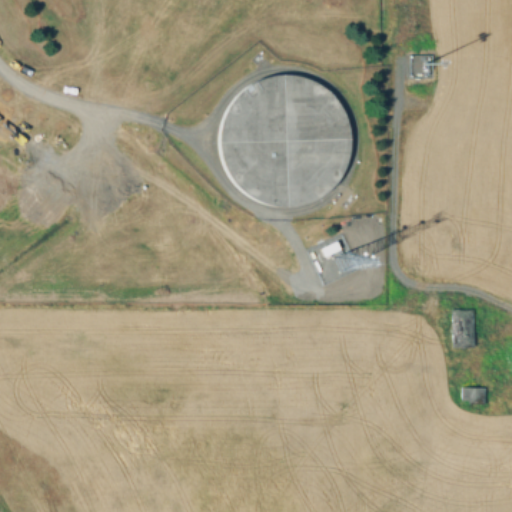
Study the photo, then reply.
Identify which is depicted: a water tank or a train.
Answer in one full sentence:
Looking from above, you can make out a water tank.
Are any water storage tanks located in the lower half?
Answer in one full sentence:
No, I see no water storage tank in the lower half.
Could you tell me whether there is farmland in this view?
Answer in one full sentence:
Yes, some farmland is visible.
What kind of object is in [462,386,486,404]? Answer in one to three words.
building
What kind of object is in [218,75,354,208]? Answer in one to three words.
water tank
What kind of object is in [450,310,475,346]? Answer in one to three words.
building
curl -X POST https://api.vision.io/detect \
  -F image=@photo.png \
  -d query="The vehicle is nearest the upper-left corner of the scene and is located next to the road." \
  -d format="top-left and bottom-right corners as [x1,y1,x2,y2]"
[10,61,35,77]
